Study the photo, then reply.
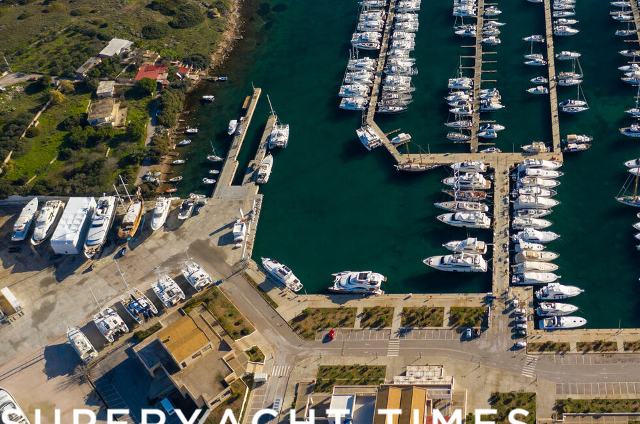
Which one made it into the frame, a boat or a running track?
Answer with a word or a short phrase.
boat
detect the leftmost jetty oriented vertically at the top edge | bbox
[366,0,397,121]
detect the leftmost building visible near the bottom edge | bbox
[132,303,252,411]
